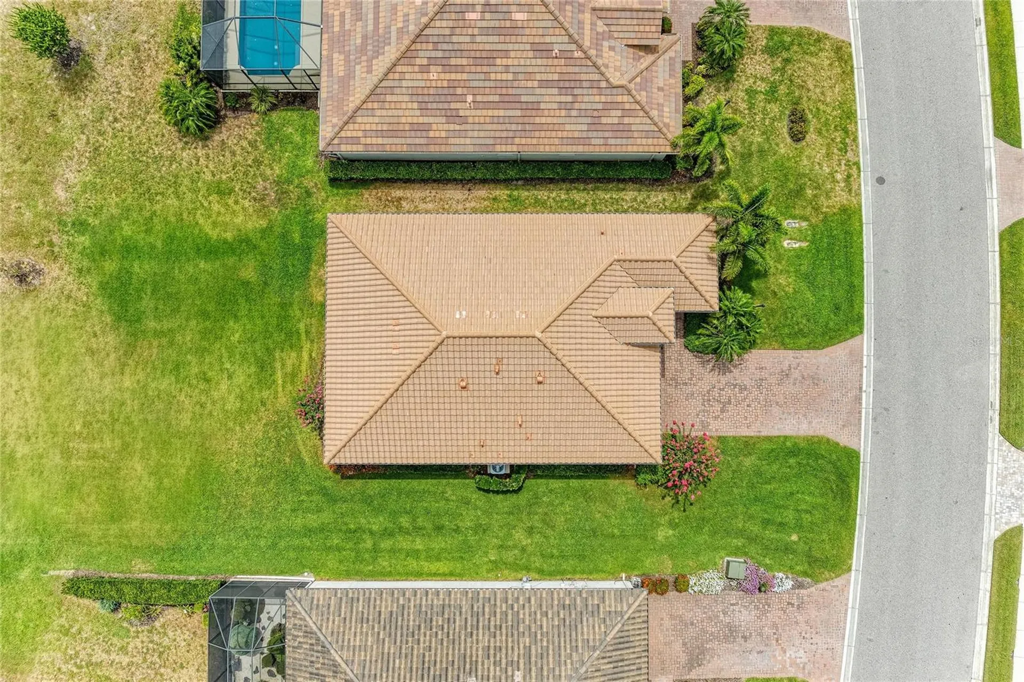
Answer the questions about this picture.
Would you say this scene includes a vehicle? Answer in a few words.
No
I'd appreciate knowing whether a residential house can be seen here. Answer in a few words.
Yes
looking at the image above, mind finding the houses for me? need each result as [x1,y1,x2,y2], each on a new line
[323,211,721,465]
[284,579,650,682]
[318,0,684,161]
